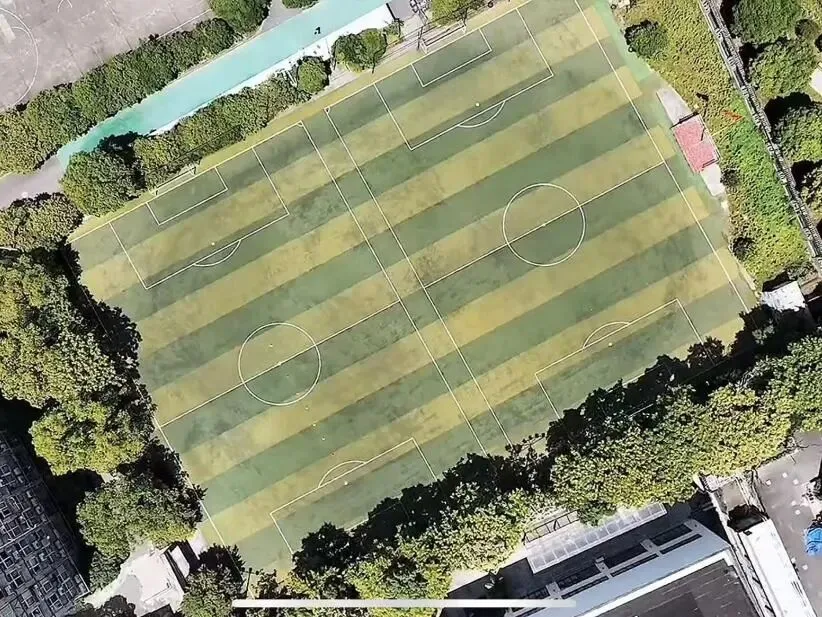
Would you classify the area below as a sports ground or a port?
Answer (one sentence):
The picture captures a sports ground.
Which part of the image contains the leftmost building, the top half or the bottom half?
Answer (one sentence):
The leftmost building sits in the bottom half of the picture.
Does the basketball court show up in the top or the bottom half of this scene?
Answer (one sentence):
The basketball court is in the top half of the image.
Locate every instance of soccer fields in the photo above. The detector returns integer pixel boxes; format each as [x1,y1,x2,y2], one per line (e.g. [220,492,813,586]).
[64,124,491,604]
[328,0,758,455]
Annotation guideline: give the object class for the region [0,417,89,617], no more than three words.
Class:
building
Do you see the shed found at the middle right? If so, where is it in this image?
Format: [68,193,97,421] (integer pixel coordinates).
[753,280,808,320]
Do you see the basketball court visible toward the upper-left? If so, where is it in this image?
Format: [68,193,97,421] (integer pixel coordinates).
[0,0,229,122]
